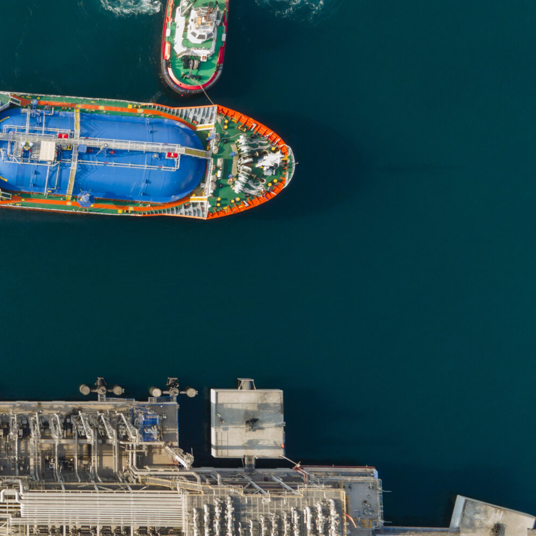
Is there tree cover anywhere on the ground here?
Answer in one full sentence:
No, the scene doesn't show any tree cover.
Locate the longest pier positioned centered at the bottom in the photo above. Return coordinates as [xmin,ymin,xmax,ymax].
[179,465,379,496]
